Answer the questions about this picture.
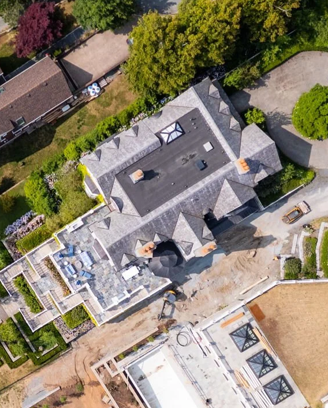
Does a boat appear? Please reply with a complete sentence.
No, the picture doesn't show any boat.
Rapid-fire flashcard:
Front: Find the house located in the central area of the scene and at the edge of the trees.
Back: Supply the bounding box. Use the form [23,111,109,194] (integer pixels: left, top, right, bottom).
[79,77,283,287]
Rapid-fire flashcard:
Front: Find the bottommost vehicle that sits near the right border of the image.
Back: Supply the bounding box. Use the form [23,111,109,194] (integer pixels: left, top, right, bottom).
[283,200,313,224]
